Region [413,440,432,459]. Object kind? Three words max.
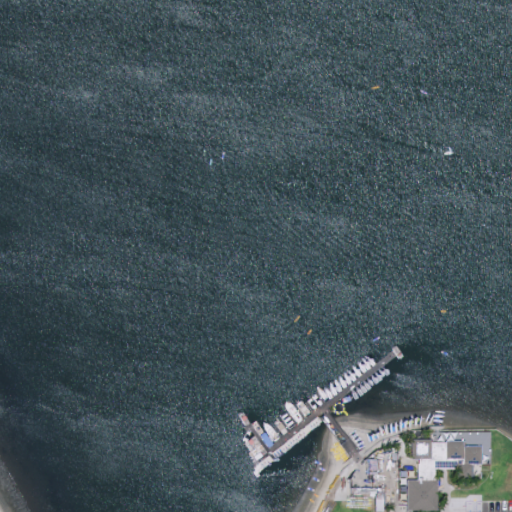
building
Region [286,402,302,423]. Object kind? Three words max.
boat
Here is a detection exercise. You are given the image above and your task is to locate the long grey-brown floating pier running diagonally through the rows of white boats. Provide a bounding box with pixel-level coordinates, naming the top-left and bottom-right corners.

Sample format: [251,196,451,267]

[253,352,398,465]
